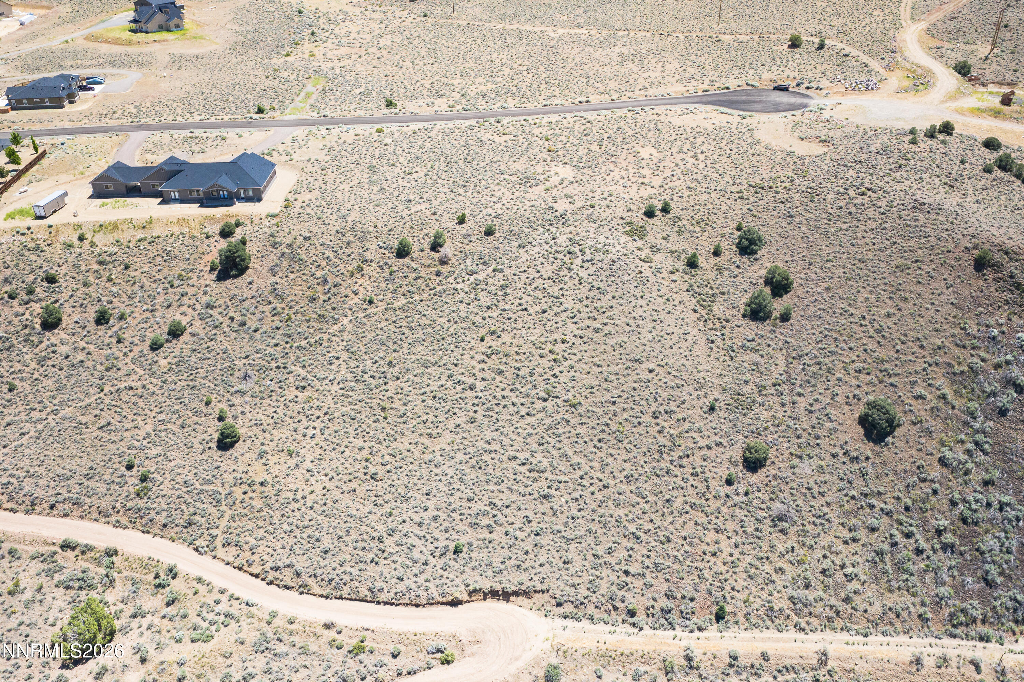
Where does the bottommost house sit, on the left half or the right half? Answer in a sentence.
The bottommost house sits on the left side.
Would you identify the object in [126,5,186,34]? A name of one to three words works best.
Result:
house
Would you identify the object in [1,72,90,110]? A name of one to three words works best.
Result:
house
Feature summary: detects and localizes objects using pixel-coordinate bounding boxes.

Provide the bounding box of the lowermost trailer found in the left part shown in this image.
[33,188,79,216]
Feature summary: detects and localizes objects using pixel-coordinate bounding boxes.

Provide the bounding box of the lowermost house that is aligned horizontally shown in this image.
[88,152,277,205]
